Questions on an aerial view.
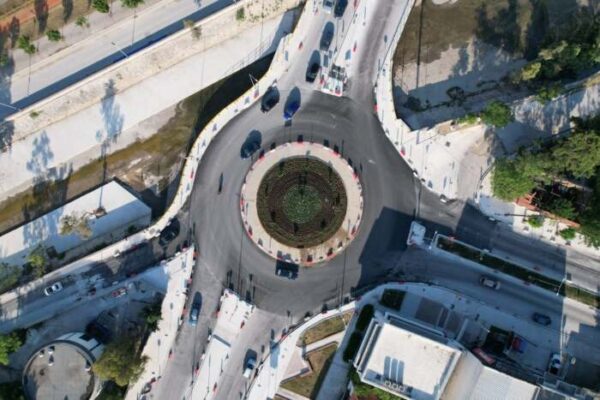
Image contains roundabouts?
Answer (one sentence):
Yes, a roundabout can be made out from above.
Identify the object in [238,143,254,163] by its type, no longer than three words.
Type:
car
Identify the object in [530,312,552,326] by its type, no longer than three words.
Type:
car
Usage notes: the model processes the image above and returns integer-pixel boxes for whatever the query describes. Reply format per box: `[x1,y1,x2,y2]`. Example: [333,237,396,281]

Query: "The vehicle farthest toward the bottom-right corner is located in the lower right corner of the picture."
[548,351,561,374]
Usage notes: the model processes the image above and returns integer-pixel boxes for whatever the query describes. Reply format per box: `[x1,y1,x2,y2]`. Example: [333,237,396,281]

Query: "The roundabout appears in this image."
[193,94,411,312]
